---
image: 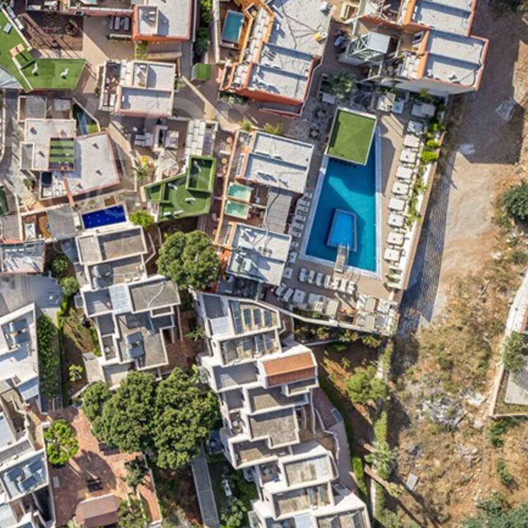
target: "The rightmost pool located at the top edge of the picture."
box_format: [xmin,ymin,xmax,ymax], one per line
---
[220,8,243,46]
